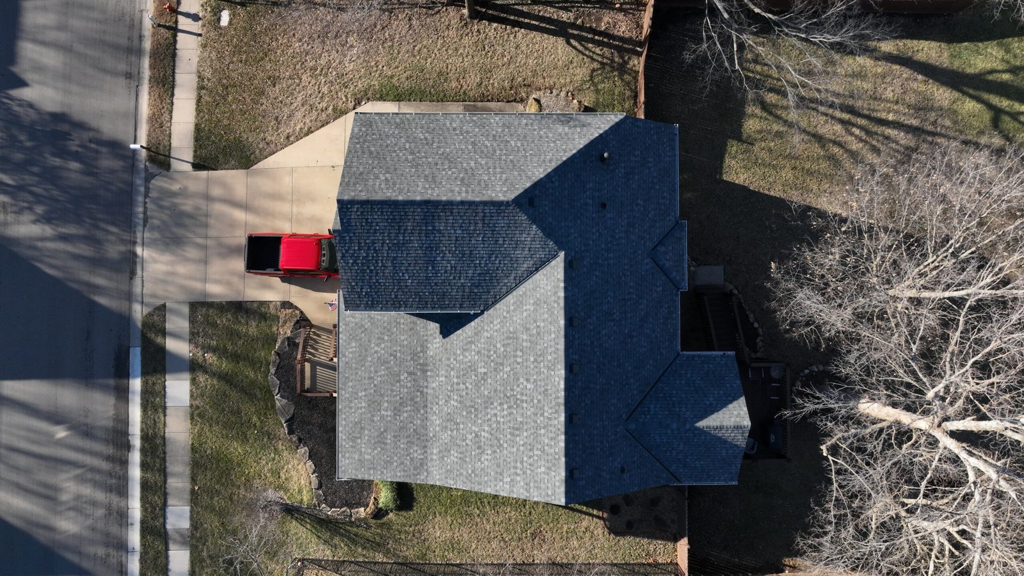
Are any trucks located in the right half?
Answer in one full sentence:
No, no truck is visible in the right half.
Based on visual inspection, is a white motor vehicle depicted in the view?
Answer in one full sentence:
No, no white motor vehicle can be seen from above.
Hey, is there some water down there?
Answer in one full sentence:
No, the picture contains no water.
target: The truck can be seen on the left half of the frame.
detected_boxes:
[241,227,340,281]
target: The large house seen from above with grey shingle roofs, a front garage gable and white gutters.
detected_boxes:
[332,112,751,506]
